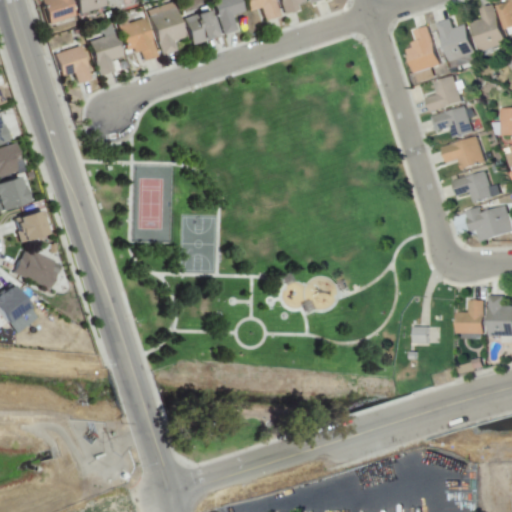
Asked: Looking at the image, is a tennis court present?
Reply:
Yes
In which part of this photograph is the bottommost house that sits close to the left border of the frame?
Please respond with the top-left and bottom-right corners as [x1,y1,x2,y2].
[0,289,36,329]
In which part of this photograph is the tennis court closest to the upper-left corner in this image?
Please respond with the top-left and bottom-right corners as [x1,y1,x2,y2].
[133,164,172,244]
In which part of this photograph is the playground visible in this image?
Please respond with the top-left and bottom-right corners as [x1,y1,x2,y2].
[278,274,340,314]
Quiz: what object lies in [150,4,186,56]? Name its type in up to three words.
house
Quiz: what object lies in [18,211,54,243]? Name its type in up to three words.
house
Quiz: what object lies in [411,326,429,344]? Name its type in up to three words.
building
